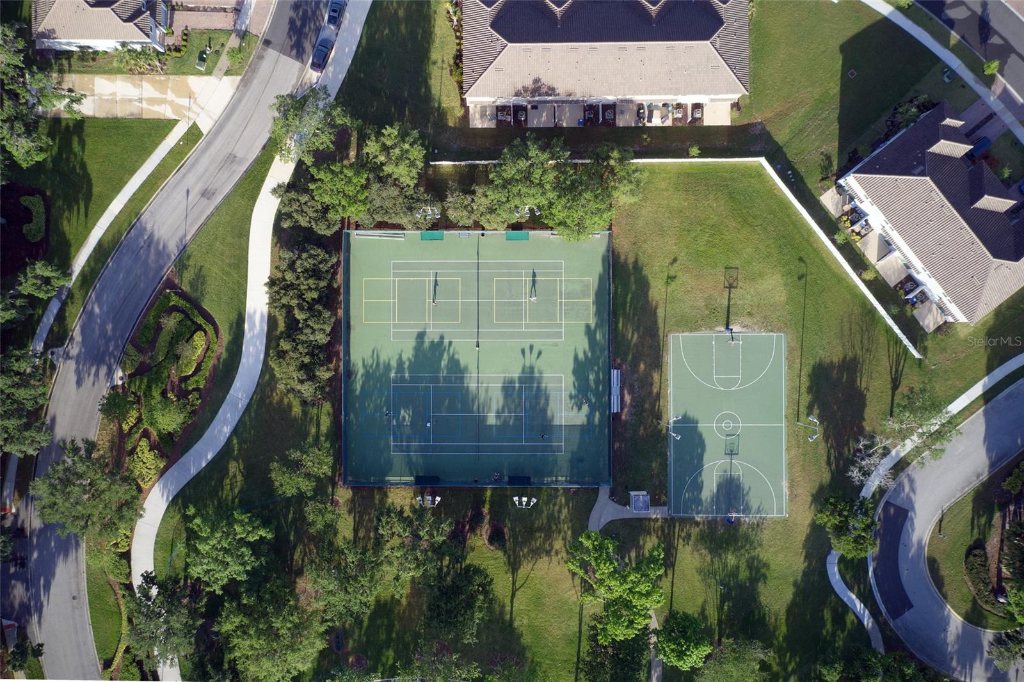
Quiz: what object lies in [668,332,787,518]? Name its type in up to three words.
basketball court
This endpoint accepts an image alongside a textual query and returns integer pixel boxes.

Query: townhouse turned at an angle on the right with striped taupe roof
[839,103,1024,323]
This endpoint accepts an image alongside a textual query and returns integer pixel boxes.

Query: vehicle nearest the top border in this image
[326,0,348,26]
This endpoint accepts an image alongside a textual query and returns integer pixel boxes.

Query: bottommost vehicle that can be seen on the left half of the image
[311,38,333,74]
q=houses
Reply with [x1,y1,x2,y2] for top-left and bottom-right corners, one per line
[36,0,172,51]
[839,103,1024,323]
[463,0,749,106]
